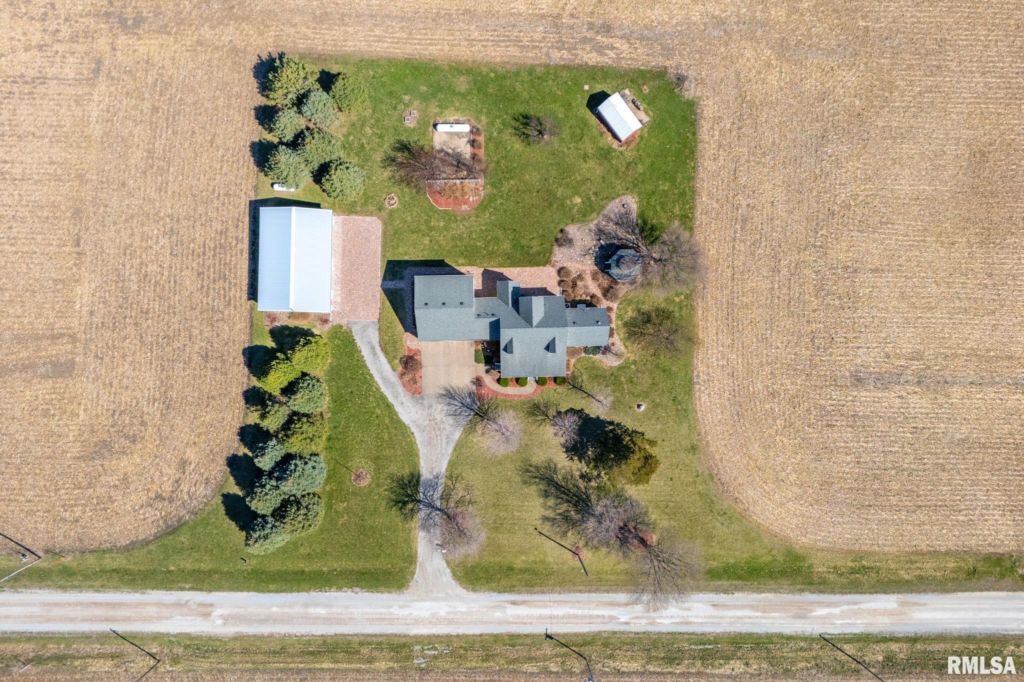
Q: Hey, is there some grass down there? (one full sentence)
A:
Yes, grass shows up in the scene.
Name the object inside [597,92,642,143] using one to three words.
shed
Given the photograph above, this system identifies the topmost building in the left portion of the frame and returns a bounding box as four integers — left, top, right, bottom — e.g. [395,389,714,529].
[257,207,337,322]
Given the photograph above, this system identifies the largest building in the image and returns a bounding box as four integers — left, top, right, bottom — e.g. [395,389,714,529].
[414,274,610,382]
